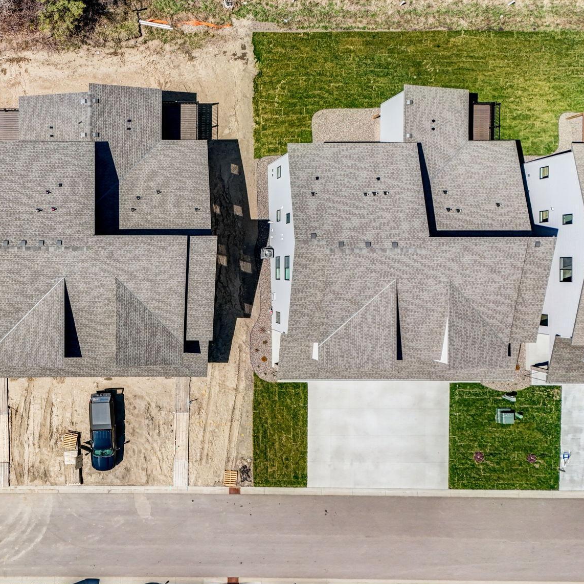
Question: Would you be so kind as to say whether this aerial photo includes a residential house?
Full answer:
Yes, there's a residential house down there.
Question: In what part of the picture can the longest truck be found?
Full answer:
The longest truck is in the bottom left part of the image.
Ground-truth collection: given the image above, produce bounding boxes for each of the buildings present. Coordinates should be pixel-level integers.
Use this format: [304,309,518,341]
[0,83,218,378]
[271,85,556,381]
